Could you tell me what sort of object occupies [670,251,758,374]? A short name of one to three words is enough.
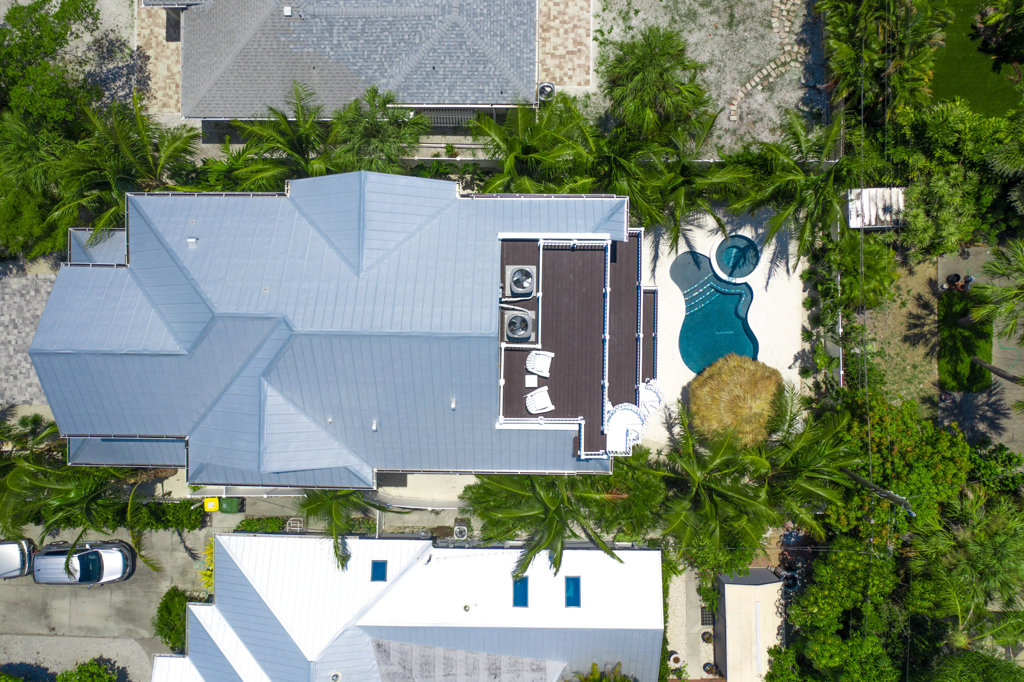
swimming pool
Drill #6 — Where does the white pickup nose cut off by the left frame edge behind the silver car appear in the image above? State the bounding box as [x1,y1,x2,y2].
[0,534,34,579]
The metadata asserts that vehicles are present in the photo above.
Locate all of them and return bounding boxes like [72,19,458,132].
[0,534,34,579]
[27,539,136,592]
